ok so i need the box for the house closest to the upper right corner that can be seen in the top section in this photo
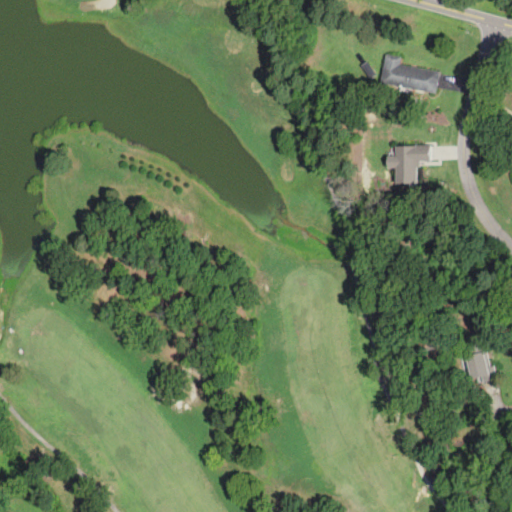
[380,54,440,95]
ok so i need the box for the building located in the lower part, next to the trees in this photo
[466,352,496,387]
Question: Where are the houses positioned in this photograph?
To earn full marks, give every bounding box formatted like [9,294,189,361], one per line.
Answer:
[386,145,432,184]
[466,352,496,387]
[380,54,440,95]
